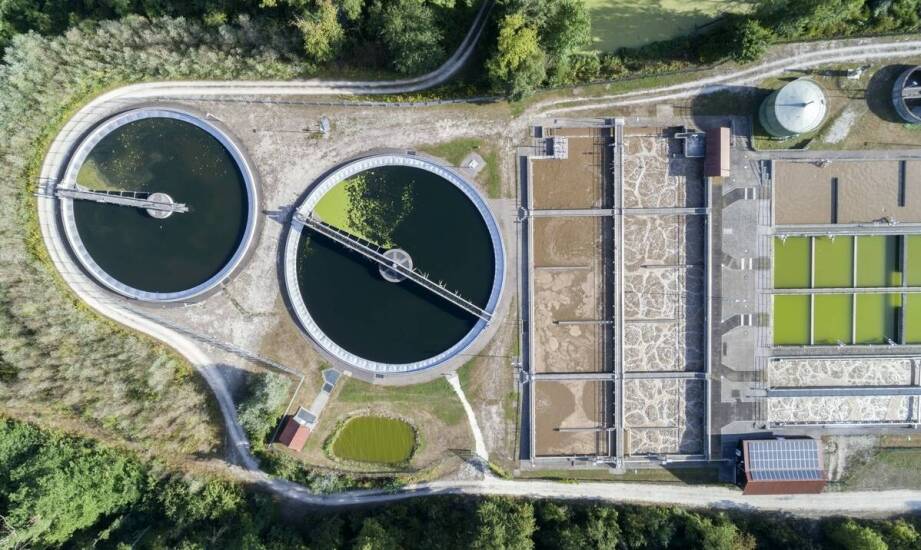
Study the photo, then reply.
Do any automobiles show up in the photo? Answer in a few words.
No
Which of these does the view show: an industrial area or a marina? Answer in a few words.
industrial area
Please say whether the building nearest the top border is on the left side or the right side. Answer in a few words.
right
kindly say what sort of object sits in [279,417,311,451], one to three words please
shed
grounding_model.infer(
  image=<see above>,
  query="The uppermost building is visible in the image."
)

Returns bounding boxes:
[705,125,729,177]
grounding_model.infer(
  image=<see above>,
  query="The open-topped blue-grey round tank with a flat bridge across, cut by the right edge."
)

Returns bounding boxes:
[891,66,921,128]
